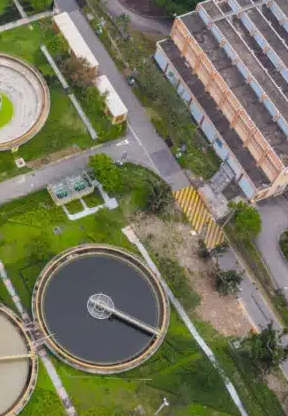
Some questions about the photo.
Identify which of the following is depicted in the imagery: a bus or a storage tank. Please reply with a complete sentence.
Looking from above, you can make out a storage tank.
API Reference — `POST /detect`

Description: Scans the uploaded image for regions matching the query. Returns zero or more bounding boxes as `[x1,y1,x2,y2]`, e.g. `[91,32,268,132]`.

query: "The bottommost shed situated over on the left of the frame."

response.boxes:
[91,75,129,124]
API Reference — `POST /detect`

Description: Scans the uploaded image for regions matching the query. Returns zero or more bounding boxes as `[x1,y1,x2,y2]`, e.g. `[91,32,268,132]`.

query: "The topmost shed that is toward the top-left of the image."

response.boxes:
[52,12,99,76]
